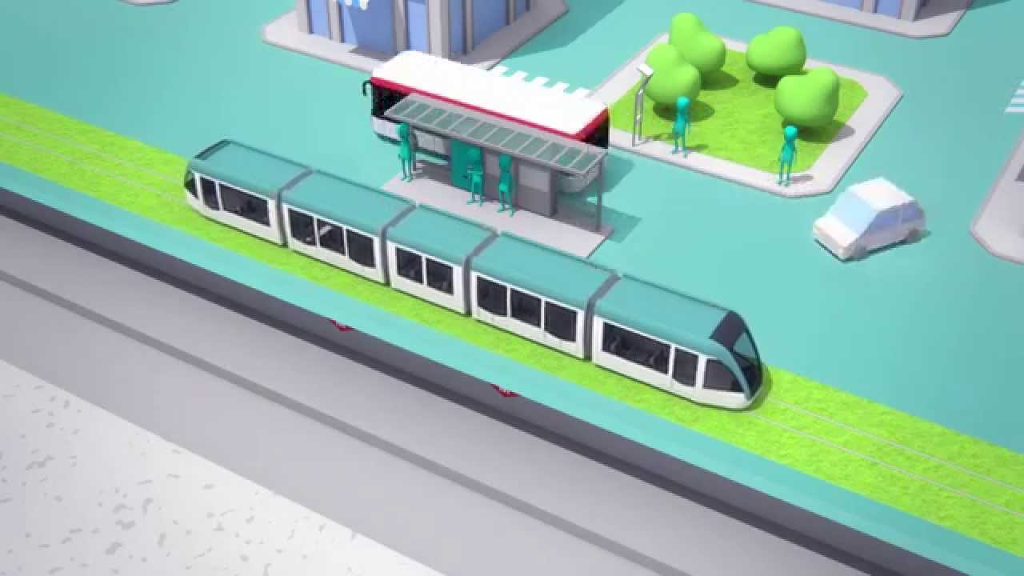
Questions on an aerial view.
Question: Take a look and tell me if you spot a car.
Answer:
Yes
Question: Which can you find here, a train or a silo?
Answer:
train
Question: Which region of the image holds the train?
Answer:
center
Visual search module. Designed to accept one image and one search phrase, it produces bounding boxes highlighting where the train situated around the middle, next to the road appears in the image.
[185,143,765,409]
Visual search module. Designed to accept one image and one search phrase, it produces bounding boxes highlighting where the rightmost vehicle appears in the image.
[816,171,930,255]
